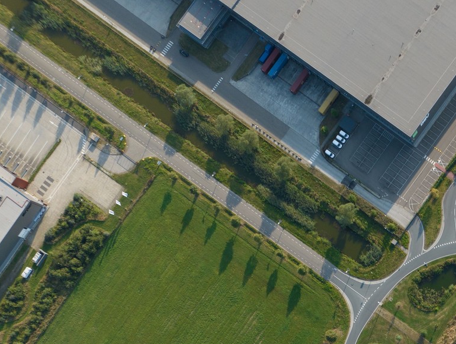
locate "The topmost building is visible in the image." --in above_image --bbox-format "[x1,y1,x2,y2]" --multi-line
[175,0,233,48]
